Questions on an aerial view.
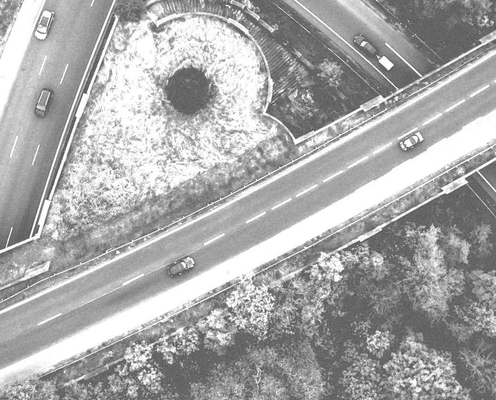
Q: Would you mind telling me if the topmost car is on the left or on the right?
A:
left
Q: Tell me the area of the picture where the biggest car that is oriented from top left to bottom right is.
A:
top right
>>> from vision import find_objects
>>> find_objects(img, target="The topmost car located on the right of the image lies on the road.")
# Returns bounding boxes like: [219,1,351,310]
[351,34,379,59]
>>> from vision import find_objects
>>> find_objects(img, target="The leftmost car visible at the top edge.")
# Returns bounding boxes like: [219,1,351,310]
[34,8,56,42]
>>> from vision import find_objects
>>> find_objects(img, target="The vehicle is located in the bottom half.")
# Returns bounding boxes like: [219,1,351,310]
[165,255,198,280]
